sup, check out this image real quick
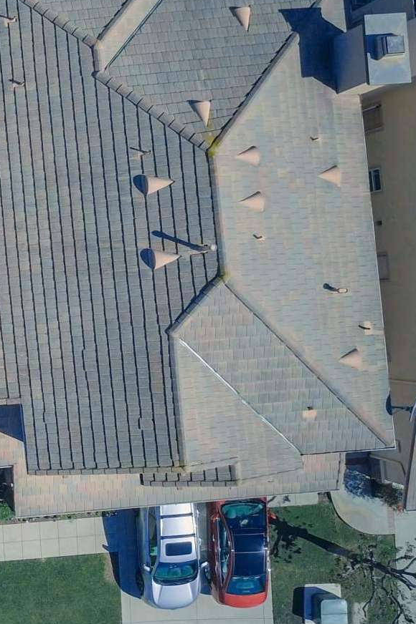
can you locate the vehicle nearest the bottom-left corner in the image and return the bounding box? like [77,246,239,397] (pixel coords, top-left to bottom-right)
[138,503,207,611]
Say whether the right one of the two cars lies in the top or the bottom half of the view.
bottom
